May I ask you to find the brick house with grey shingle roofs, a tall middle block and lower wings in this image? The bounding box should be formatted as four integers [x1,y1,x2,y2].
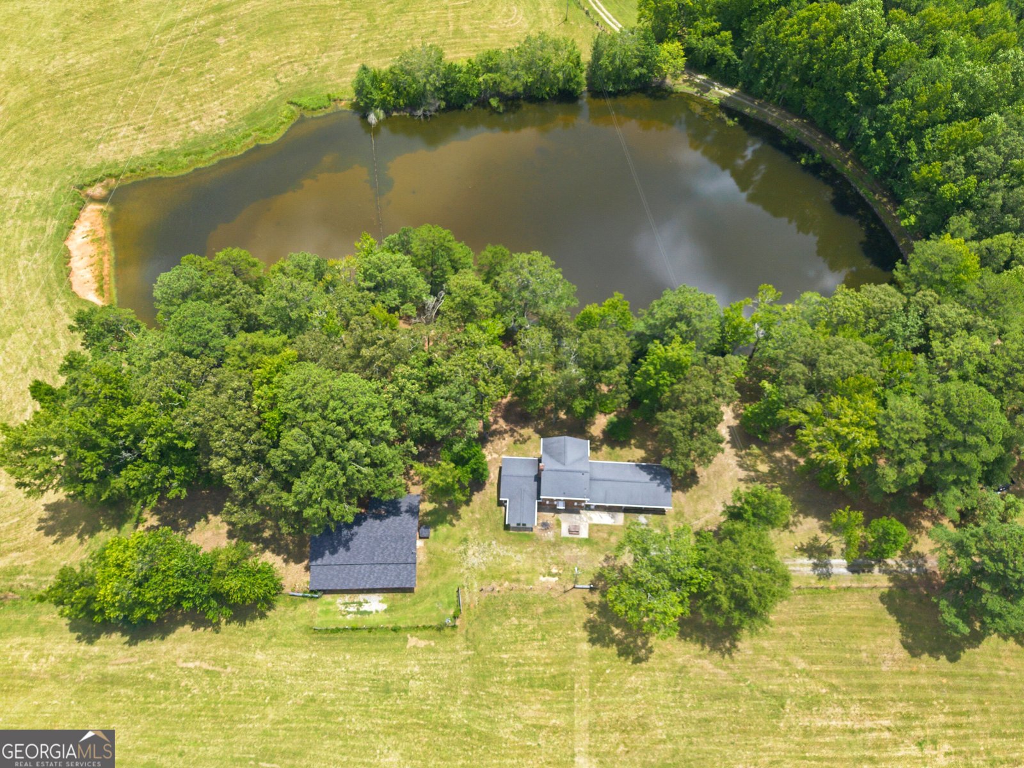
[499,436,673,531]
